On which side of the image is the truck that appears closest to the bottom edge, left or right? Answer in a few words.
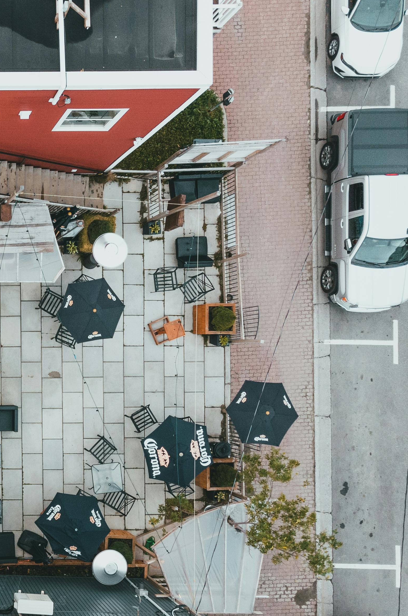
right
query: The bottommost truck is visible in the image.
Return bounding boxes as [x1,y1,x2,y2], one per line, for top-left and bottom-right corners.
[318,107,408,314]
